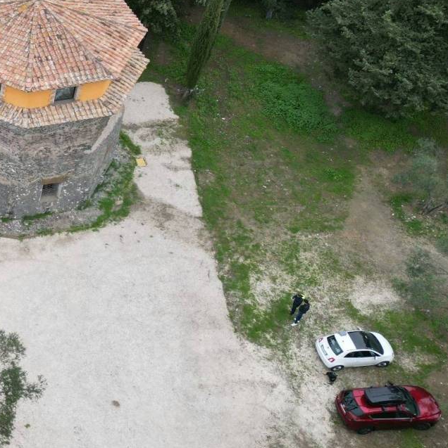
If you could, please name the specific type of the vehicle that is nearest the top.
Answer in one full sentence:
The vehicle that is nearest the top appears to be an automobile.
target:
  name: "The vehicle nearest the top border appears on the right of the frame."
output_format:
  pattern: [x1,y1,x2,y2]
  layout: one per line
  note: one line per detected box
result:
[315,322,397,371]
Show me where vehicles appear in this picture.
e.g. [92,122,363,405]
[315,322,397,371]
[330,376,443,434]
